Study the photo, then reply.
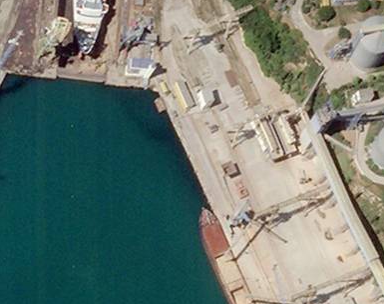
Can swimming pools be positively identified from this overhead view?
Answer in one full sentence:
No, no swimming pool can be seen from above.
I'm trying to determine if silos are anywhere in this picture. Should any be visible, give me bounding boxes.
[351,18,384,68]
[369,127,384,172]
